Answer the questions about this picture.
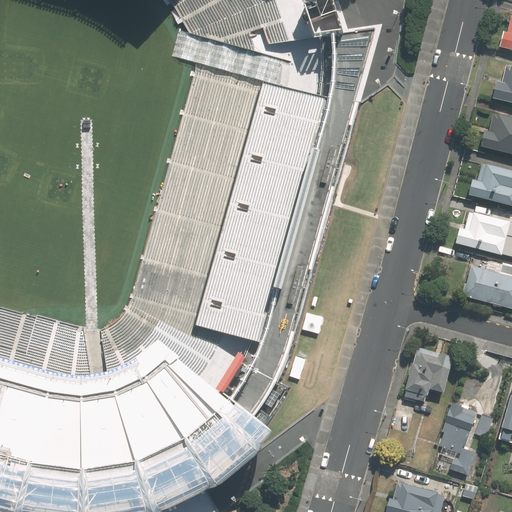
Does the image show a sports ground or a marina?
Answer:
sports ground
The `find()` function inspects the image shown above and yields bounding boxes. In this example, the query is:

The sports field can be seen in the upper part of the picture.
[0,0,195,332]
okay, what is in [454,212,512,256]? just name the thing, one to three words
house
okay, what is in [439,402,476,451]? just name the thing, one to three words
house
